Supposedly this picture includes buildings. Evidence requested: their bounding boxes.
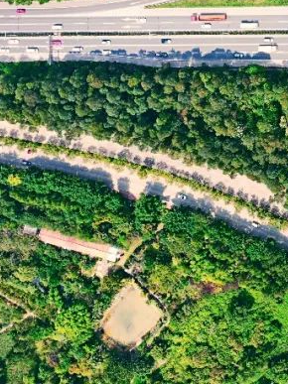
[94,258,112,277]
[22,224,39,235]
[39,225,123,261]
